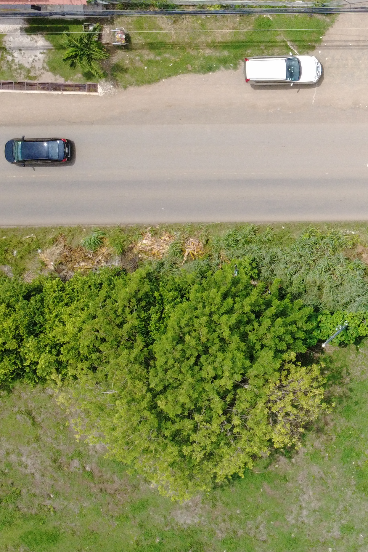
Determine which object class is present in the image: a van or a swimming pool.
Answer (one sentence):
It is a van that can be seen here.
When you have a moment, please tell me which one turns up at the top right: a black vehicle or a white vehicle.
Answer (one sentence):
You can see a white vehicle at the top right.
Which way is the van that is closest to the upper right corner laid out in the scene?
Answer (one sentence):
The van that is closest to the upper right corner has been laid out from side to side relative to the frame.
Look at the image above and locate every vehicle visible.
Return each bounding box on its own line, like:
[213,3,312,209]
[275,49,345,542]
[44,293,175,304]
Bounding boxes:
[2,134,68,168]
[248,52,325,88]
